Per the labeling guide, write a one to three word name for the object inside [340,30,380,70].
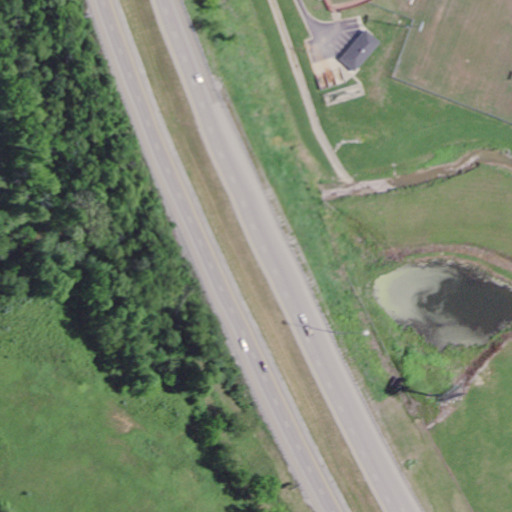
building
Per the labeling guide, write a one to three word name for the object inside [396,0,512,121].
sports field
